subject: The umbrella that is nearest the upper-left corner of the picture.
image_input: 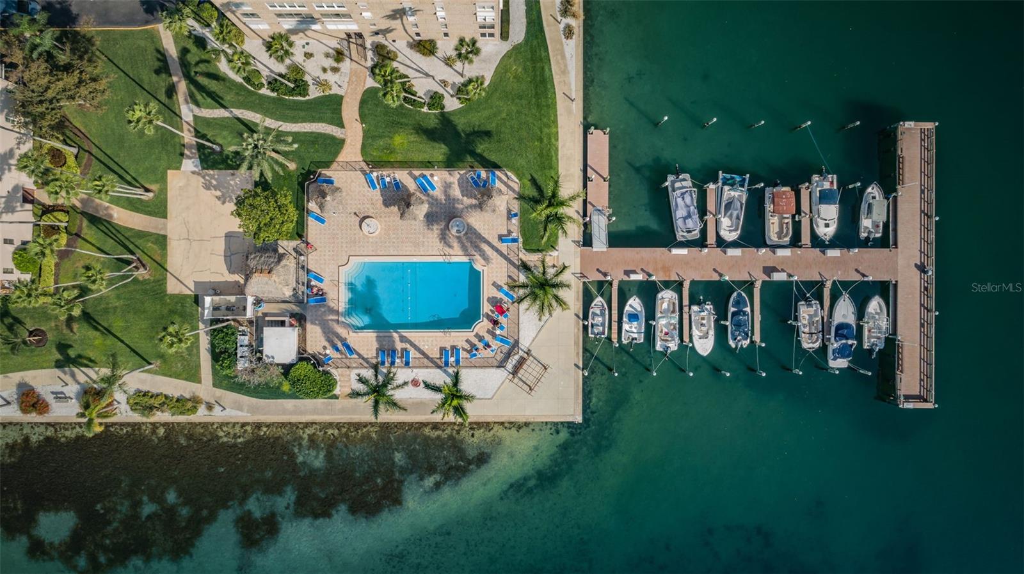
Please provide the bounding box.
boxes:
[311,182,345,218]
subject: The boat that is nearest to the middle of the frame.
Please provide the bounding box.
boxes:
[589,297,607,343]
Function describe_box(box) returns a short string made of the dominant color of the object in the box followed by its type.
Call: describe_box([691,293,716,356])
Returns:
white boat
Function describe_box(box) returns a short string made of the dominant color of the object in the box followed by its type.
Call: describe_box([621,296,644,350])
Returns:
white boat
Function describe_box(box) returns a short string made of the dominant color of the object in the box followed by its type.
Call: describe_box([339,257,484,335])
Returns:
blue swimming pool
